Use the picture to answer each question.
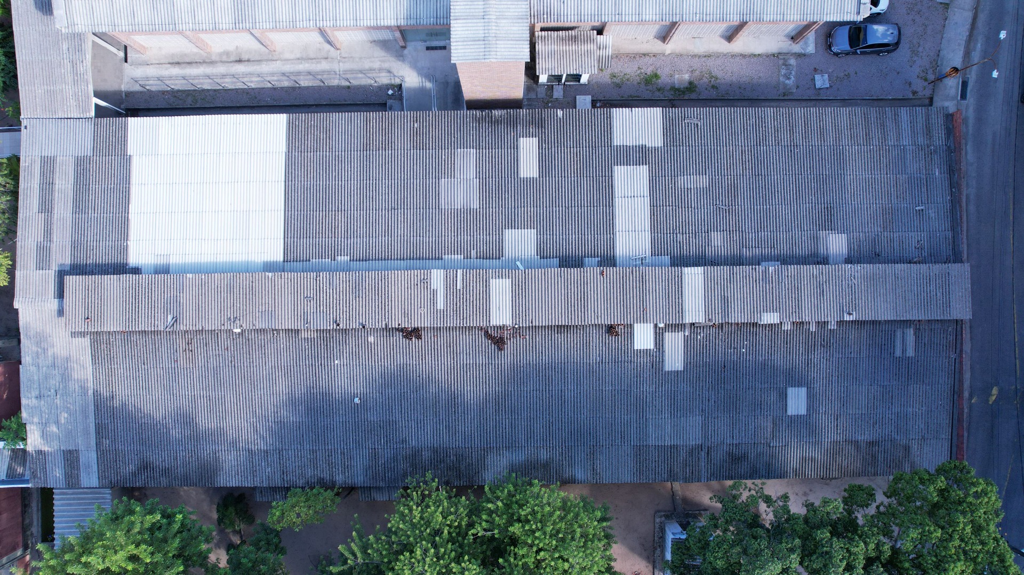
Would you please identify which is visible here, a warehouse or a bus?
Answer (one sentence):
The image shows a warehouse.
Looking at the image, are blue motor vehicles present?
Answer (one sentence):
Yes, there's a blue motor vehicle down there.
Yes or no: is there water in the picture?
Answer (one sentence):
No, there is no water in the image.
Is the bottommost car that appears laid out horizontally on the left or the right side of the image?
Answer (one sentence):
You can find the bottommost car that appears laid out horizontally on the right side of the picture.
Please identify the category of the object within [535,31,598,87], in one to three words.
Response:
shed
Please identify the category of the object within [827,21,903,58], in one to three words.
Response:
car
